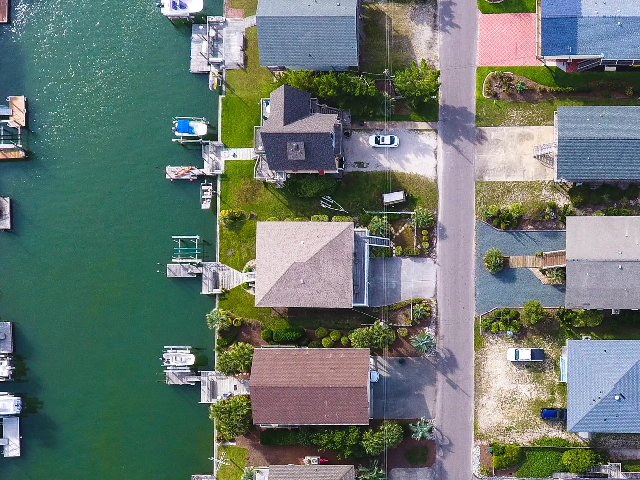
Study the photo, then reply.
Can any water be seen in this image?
Yes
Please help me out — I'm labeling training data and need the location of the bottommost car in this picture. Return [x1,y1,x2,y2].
[541,407,567,421]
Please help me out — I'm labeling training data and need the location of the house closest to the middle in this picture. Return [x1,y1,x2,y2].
[239,221,390,306]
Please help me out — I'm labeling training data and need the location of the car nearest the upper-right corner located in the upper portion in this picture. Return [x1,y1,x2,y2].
[368,135,400,148]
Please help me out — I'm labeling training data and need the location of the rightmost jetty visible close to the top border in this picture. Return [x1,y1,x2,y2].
[188,14,256,74]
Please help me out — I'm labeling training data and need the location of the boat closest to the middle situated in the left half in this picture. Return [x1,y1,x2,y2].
[200,180,213,208]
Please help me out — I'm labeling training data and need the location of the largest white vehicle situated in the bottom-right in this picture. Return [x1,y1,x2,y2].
[506,347,544,363]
